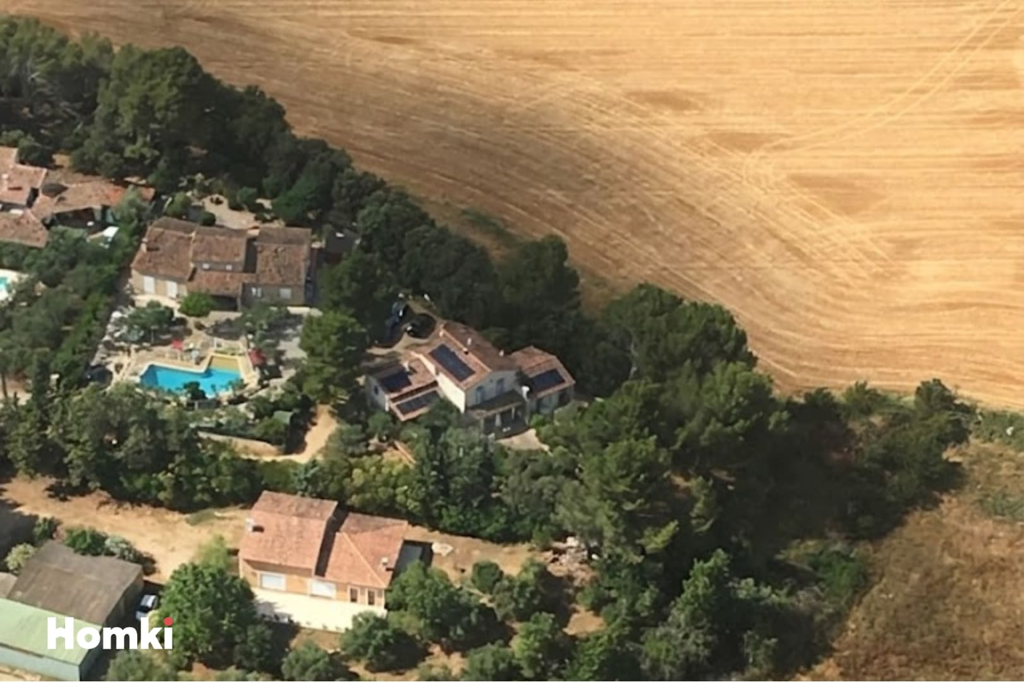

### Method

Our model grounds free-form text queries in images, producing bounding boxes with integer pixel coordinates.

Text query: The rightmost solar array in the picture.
[526,365,561,390]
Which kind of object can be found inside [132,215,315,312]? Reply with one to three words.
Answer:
house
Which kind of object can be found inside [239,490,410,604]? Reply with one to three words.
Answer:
house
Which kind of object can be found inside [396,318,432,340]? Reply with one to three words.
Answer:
car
